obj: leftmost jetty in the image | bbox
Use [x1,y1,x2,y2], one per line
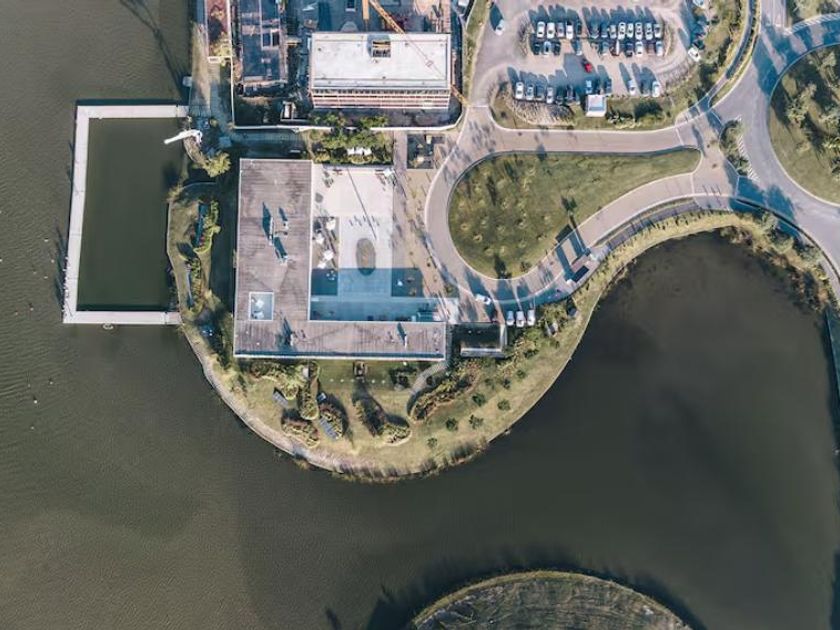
[64,104,189,323]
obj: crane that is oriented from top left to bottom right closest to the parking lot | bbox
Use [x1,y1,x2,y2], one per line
[359,0,470,105]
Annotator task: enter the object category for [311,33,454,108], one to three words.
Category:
building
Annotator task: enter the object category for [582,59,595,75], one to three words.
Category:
vehicle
